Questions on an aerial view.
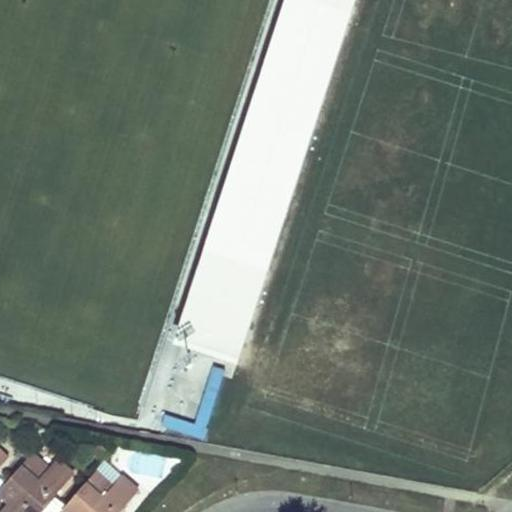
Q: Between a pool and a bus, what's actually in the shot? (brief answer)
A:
pool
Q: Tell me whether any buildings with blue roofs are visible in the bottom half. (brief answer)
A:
Yes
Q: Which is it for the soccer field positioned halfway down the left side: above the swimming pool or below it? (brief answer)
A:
above it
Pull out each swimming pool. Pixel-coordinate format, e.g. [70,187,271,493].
[128,452,166,478]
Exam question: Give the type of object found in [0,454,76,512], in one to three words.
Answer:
house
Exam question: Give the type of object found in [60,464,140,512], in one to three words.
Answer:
house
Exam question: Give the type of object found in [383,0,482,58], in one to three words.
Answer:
sports field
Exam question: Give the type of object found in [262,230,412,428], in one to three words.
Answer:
sports field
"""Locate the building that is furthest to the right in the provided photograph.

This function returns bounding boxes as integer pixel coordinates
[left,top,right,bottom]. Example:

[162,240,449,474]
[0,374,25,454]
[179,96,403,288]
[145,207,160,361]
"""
[162,366,224,442]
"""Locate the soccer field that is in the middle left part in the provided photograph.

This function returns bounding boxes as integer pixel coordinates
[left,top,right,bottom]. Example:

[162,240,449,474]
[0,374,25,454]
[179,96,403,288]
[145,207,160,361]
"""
[0,0,272,416]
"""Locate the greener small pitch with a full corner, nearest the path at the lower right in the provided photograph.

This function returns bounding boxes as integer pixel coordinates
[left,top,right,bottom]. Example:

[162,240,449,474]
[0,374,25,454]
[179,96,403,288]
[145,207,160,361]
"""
[375,262,512,461]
